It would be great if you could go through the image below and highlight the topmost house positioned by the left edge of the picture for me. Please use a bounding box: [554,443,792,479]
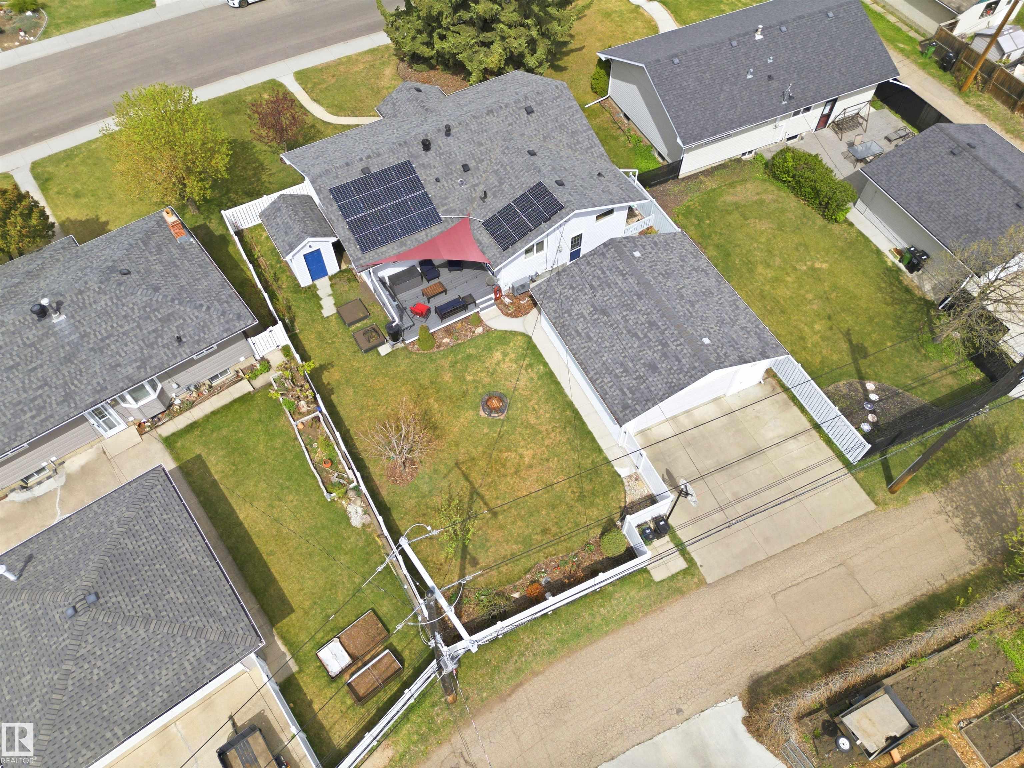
[0,205,261,496]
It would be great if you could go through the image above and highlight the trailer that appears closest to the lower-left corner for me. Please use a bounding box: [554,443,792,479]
[213,714,290,768]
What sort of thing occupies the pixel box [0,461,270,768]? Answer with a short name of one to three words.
building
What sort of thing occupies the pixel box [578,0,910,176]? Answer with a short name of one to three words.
house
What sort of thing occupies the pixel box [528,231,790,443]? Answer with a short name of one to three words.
building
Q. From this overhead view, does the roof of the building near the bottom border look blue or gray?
gray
